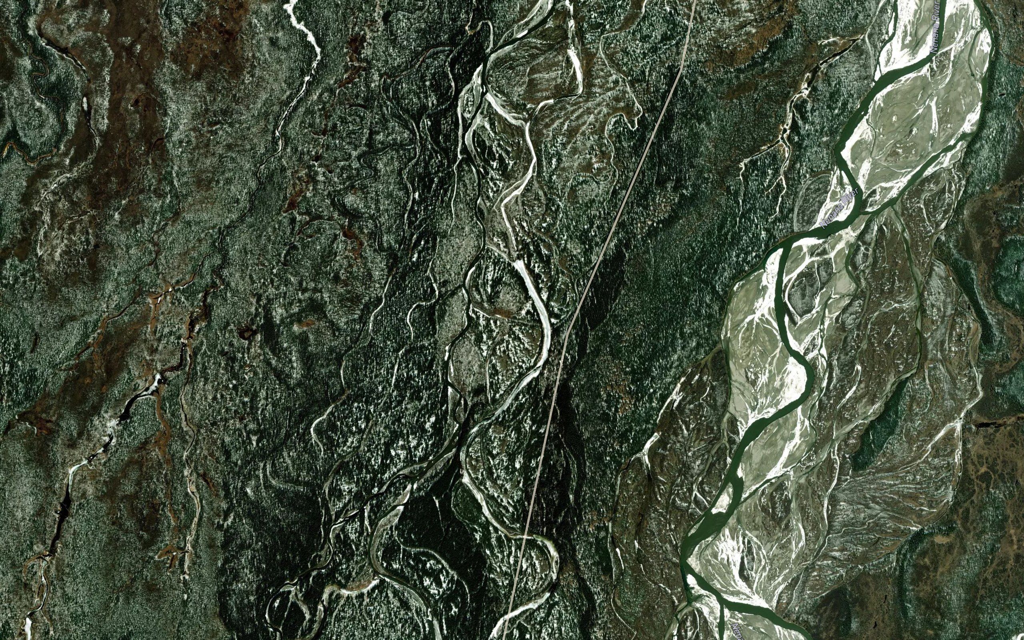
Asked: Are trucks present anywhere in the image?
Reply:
No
